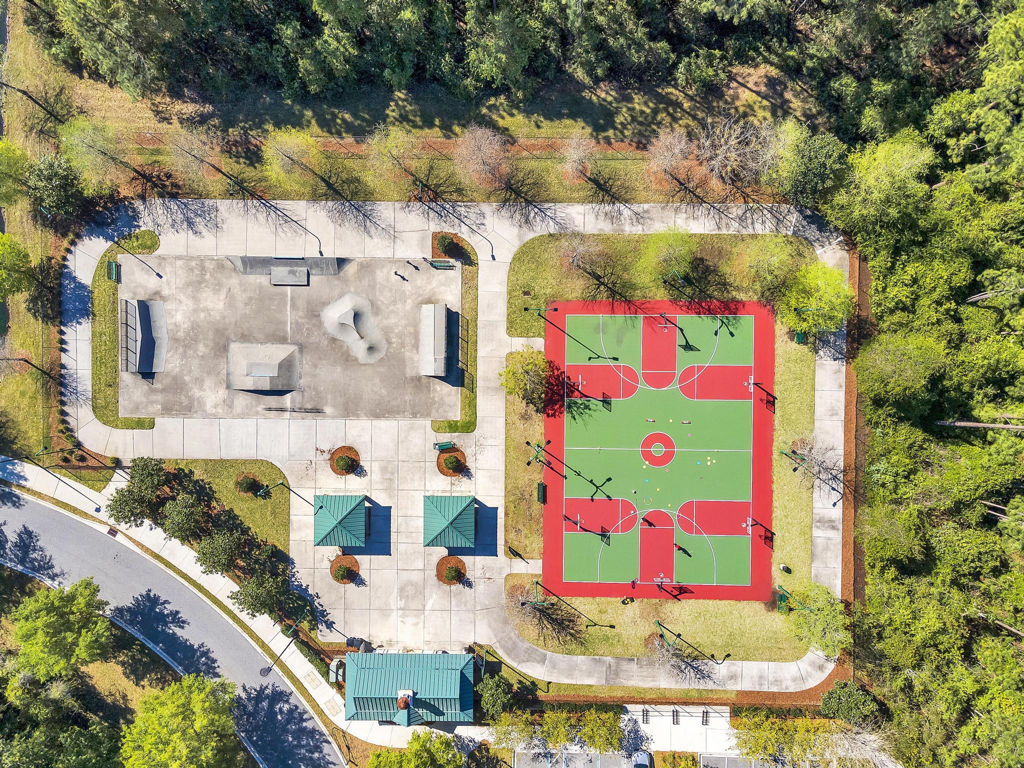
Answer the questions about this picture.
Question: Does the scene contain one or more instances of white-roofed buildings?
No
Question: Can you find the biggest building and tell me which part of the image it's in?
bottom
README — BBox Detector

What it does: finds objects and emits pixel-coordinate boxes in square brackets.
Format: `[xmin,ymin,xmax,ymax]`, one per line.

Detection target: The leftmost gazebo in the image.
[313,495,367,547]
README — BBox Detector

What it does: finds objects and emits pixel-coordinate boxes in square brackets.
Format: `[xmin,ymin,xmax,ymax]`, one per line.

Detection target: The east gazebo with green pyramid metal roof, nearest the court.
[423,496,475,547]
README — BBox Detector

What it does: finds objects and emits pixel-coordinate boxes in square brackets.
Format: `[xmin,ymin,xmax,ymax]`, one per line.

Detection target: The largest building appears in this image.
[345,643,473,734]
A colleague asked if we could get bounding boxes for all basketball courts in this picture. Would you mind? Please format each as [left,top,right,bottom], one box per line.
[542,300,774,601]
